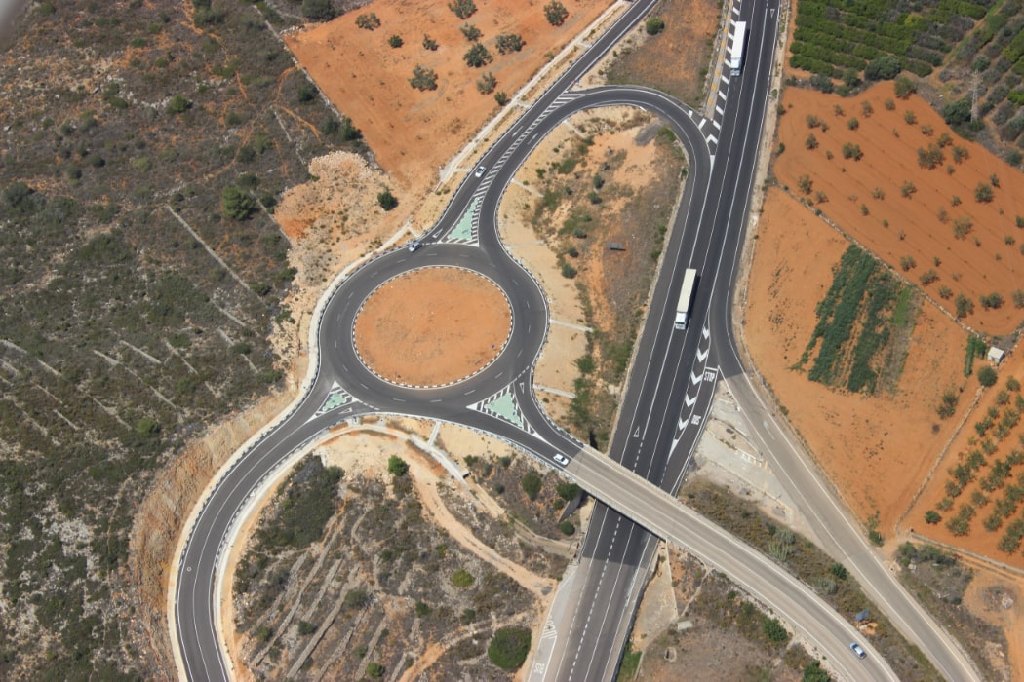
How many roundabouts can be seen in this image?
1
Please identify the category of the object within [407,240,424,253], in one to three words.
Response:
vehicle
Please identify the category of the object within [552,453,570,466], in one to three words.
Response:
vehicle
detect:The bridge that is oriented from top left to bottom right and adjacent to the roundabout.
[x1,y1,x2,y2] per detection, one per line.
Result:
[547,443,903,682]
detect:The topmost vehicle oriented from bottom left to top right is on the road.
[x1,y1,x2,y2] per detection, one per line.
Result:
[474,165,487,179]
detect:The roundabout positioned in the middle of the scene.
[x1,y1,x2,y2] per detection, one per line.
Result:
[298,193,553,443]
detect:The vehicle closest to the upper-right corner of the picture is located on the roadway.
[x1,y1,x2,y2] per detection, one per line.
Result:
[727,21,743,74]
